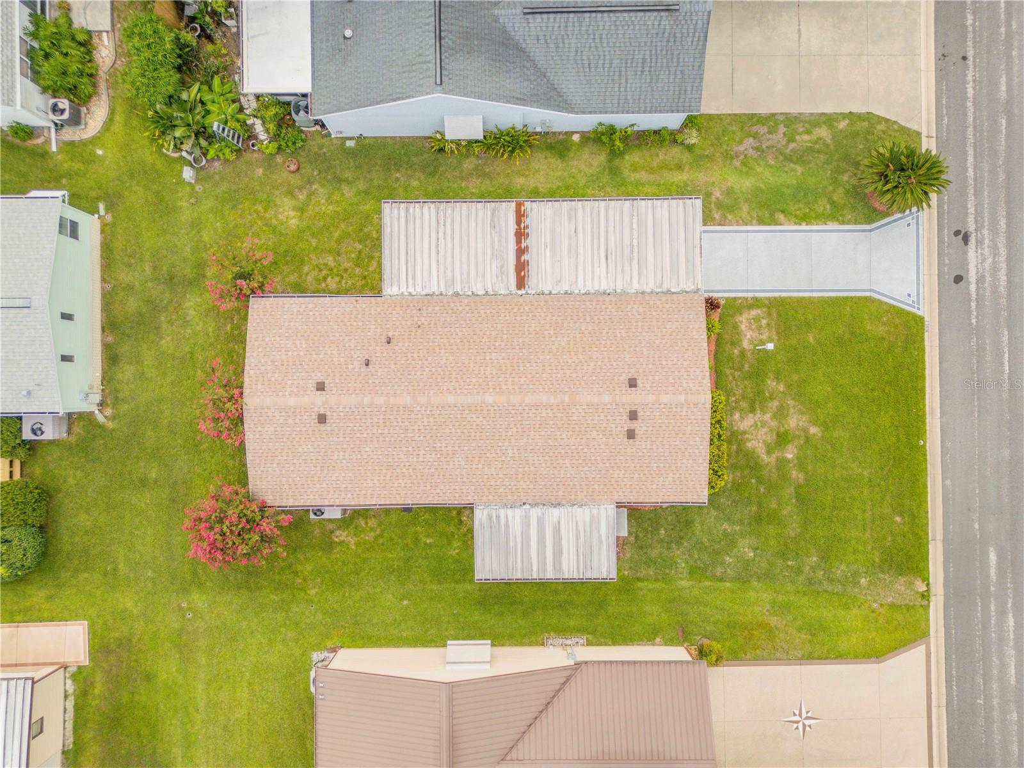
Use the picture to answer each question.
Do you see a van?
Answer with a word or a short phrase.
No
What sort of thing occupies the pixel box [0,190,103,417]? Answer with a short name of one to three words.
house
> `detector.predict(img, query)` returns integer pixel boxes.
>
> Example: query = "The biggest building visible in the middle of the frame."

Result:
[243,195,712,583]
